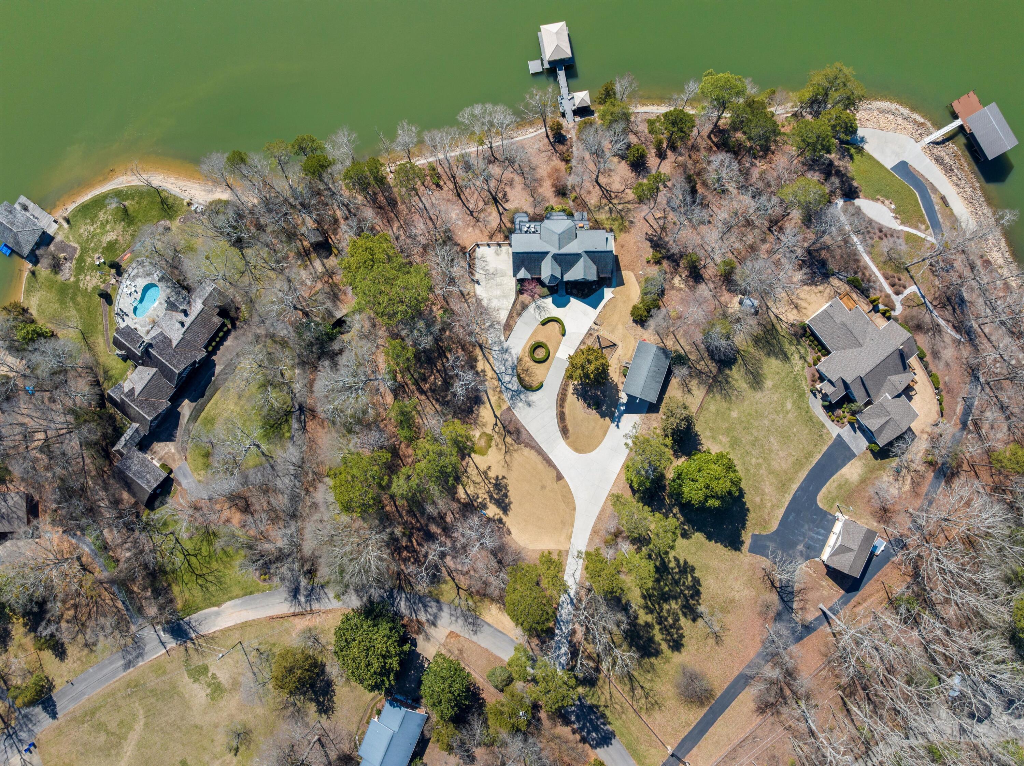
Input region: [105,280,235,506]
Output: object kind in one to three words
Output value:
house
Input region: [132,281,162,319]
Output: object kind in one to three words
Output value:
swimming pool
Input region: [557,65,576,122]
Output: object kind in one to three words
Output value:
pier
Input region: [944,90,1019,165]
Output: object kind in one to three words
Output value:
building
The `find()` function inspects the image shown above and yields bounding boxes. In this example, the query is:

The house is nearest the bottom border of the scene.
[353,693,428,766]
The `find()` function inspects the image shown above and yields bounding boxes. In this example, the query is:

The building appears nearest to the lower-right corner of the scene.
[816,516,879,578]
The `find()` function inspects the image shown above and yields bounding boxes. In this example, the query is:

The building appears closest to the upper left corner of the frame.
[0,195,61,266]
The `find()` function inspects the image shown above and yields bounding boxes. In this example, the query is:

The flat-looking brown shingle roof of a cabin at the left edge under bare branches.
[0,491,41,544]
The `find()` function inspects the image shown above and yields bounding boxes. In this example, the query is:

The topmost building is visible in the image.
[537,21,576,72]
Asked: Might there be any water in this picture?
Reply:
Yes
